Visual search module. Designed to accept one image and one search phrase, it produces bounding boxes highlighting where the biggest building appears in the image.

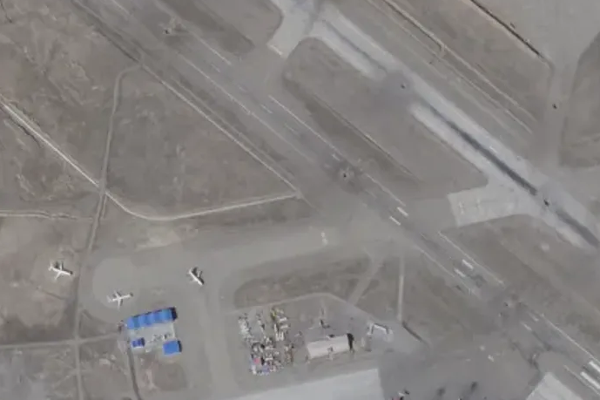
[307,335,351,360]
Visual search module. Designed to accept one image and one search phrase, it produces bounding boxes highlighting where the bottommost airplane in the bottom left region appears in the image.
[106,289,133,311]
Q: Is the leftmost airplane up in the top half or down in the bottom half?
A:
bottom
